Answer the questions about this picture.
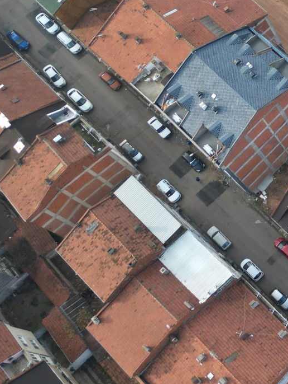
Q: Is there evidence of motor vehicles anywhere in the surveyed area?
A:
Yes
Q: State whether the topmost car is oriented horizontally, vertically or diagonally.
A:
diagonally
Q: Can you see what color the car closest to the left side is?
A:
blue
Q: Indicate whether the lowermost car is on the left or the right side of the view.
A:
right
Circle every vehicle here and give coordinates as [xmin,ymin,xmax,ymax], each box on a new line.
[66,88,93,112]
[57,31,83,54]
[146,114,174,140]
[35,13,61,35]
[97,69,123,91]
[116,137,146,165]
[153,177,183,204]
[238,255,267,284]
[206,226,234,251]
[42,64,67,88]
[267,284,288,311]
[177,146,208,175]
[5,29,30,50]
